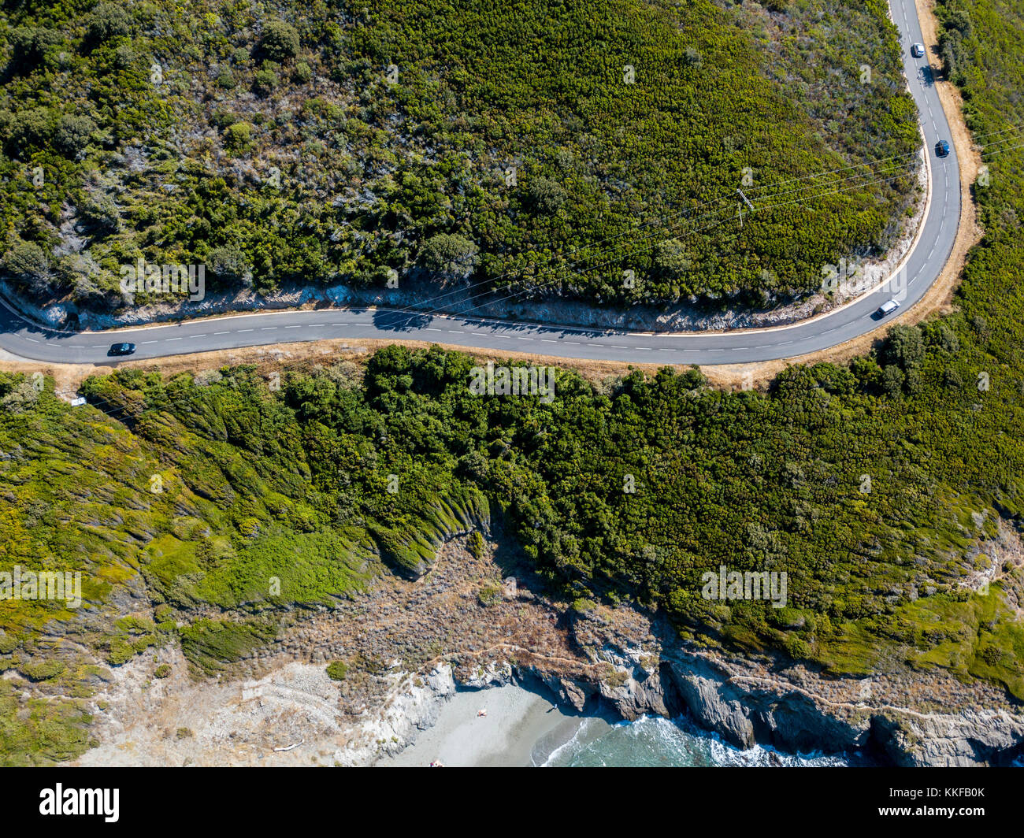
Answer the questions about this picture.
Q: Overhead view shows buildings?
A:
No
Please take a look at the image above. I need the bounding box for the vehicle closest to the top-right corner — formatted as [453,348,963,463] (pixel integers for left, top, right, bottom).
[913,43,925,58]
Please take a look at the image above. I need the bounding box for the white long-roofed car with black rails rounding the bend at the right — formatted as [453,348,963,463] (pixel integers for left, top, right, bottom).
[877,300,899,316]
